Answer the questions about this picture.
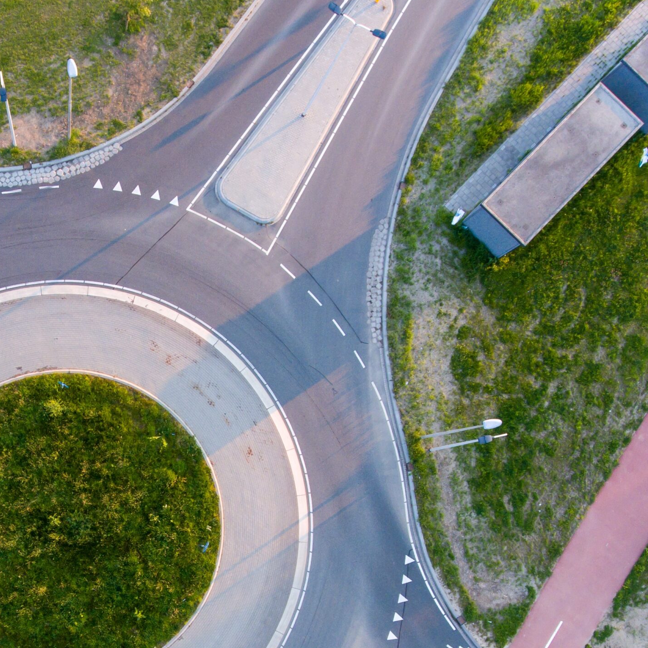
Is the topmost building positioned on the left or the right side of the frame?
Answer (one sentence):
It is on the right.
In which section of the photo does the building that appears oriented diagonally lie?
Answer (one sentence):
The building that appears oriented diagonally appears toward the top right of the photo.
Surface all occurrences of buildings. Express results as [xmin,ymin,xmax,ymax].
[464,82,643,258]
[604,33,648,115]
